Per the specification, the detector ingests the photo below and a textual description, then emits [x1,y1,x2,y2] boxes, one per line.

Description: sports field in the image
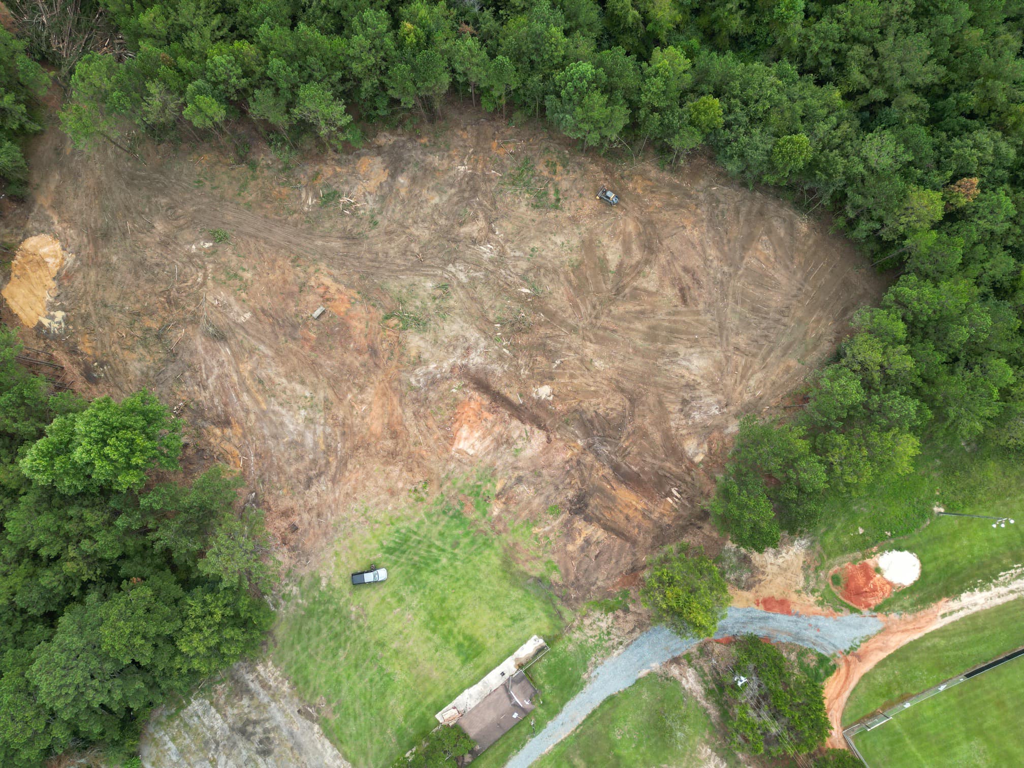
[815,428,1024,768]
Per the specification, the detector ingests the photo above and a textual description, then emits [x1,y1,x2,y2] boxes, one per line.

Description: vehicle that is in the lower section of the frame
[351,568,388,586]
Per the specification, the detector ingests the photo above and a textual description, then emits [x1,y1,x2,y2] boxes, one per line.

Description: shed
[459,665,537,753]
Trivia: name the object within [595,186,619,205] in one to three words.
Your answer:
work vehicle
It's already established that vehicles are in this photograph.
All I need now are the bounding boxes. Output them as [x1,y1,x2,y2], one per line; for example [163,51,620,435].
[351,568,388,586]
[595,186,619,205]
